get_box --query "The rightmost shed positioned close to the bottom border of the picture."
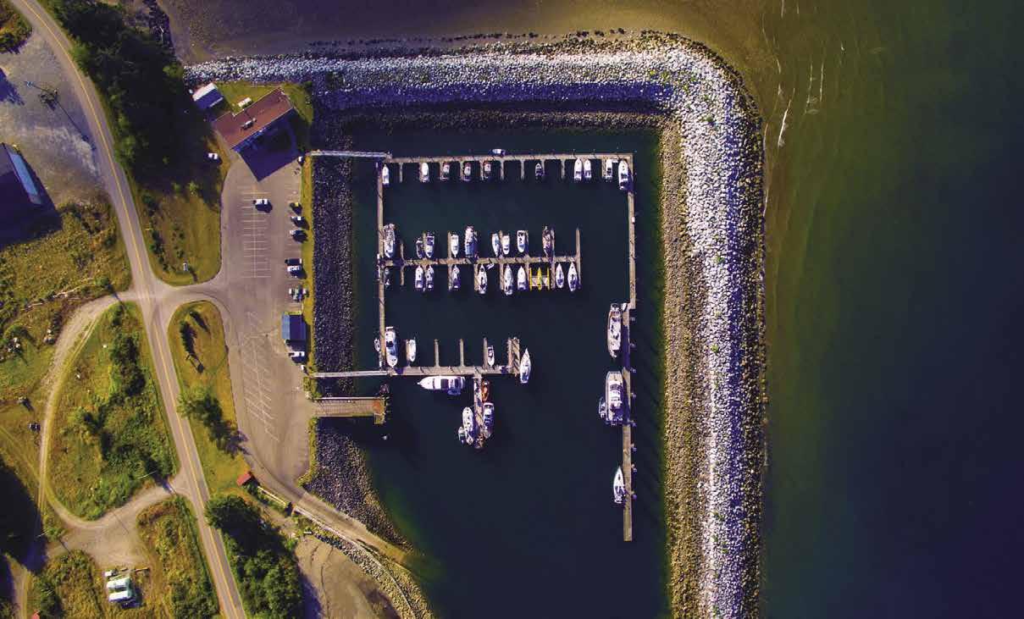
[105,572,139,603]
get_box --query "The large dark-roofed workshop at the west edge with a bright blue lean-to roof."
[0,142,48,229]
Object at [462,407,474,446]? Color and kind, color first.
white boat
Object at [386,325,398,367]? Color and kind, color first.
white boat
